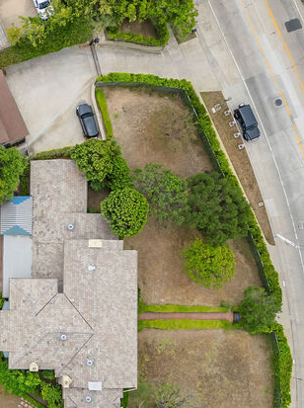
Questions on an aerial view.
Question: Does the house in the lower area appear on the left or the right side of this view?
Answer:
left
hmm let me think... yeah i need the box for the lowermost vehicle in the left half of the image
[77,101,101,140]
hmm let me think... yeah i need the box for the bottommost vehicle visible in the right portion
[234,101,261,142]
